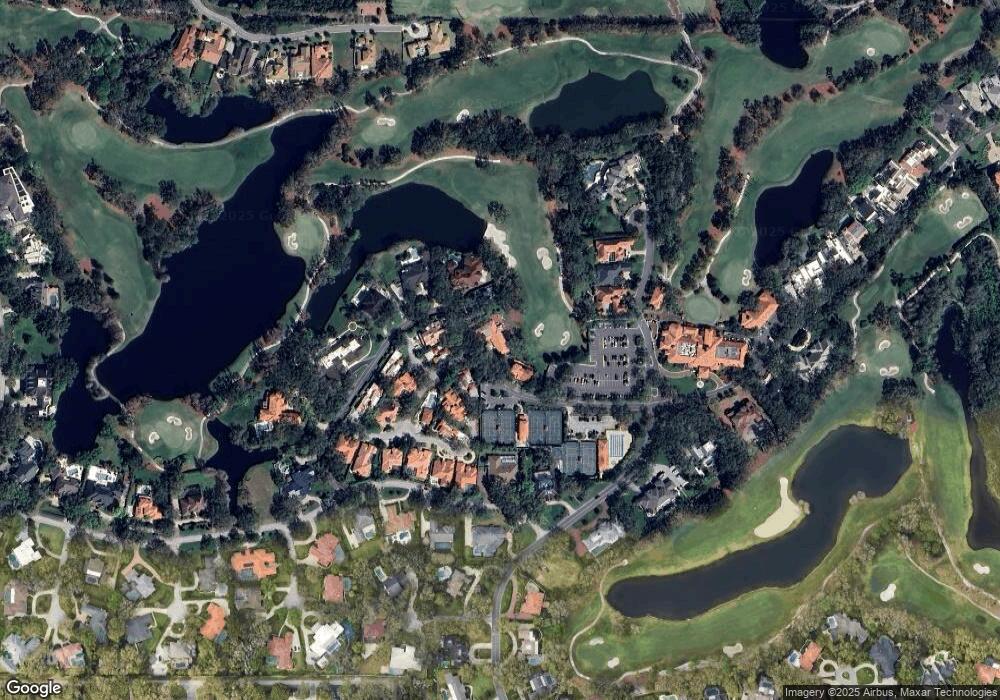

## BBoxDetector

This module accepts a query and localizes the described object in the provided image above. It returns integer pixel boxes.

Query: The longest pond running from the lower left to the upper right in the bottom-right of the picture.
[607,424,911,620]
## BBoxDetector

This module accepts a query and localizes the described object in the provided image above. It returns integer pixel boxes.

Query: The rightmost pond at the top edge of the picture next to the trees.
[760,0,808,68]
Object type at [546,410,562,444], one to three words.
tennis court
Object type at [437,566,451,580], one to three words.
swimming pool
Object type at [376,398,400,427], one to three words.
house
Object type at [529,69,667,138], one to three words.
pond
